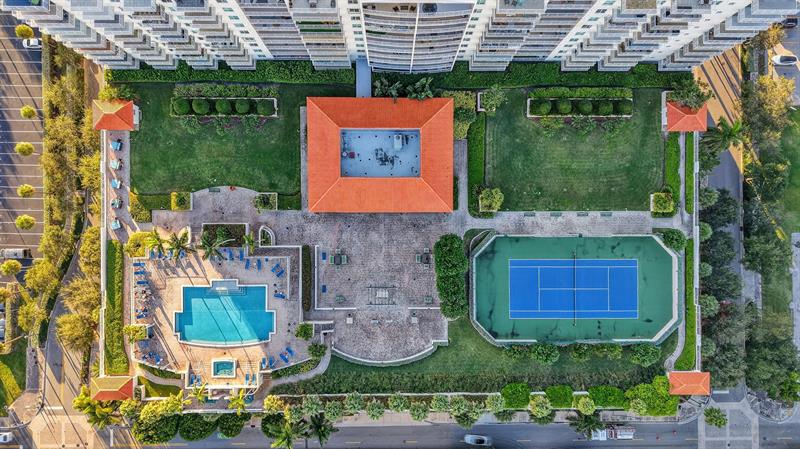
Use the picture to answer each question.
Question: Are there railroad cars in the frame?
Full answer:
No, the photo shows no railroad car.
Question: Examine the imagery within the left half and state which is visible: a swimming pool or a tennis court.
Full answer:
It is a swimming pool that can be seen within the left half.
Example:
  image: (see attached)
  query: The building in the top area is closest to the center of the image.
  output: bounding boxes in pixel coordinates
[306,97,454,213]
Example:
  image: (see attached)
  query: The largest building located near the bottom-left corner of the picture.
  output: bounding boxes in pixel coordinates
[90,375,134,401]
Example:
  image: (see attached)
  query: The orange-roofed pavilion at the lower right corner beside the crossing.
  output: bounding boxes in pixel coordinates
[666,371,711,395]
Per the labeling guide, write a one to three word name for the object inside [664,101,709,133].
building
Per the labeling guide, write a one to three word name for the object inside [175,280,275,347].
swimming pool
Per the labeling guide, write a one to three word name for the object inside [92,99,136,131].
building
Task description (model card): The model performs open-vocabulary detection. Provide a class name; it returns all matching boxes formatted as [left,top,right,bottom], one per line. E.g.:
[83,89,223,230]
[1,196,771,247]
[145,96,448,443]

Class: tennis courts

[475,236,673,341]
